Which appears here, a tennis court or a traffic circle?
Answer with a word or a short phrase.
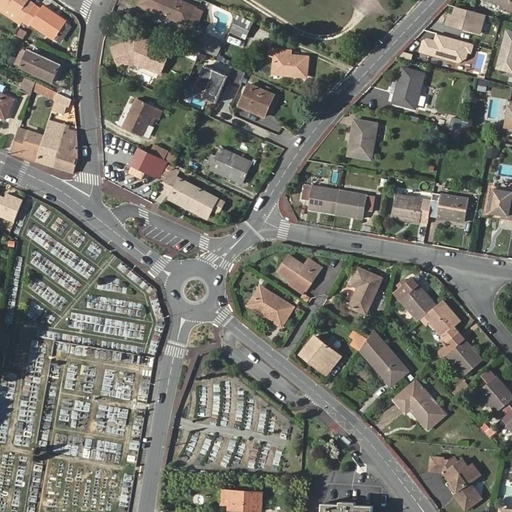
traffic circle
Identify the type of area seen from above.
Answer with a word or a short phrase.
residential area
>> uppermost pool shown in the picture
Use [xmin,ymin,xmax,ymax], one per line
[214,10,229,32]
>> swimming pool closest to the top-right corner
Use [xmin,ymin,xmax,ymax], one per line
[474,51,487,71]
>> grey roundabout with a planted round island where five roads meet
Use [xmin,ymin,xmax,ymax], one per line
[164,260,226,321]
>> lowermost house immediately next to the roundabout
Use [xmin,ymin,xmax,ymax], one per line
[246,286,295,328]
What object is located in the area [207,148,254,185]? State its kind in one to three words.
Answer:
house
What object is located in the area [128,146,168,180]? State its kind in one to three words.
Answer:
building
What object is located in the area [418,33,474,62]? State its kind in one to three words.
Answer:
house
